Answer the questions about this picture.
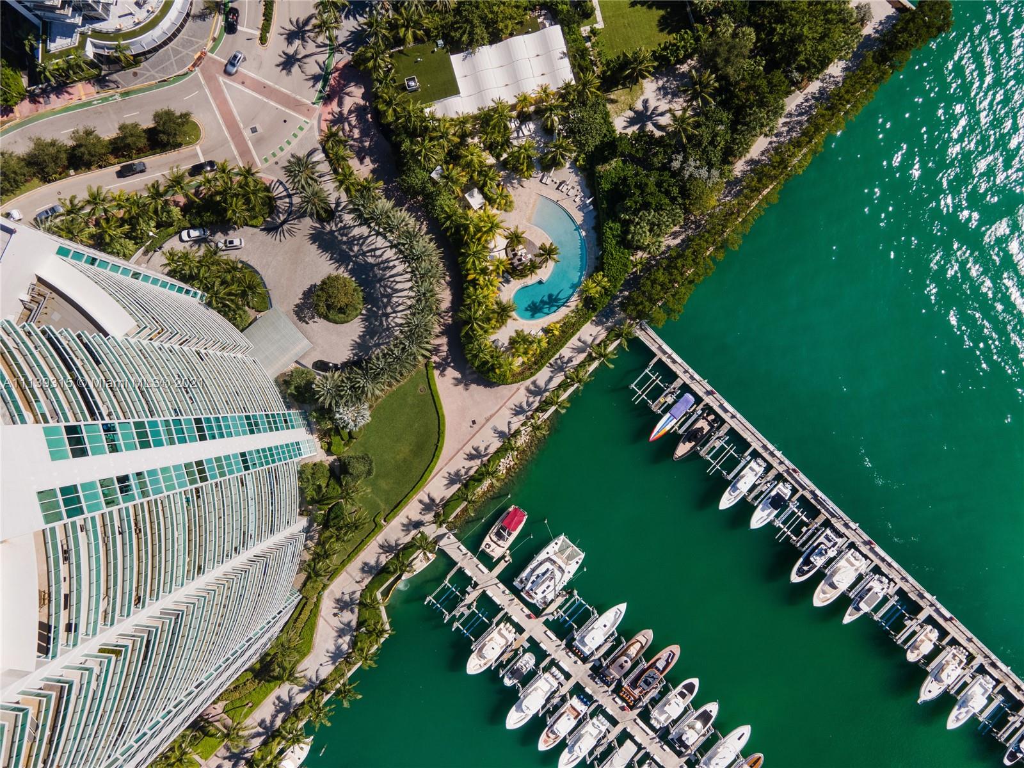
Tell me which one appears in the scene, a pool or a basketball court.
pool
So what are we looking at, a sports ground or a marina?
marina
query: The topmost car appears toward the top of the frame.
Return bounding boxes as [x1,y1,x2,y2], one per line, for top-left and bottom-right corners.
[225,7,239,35]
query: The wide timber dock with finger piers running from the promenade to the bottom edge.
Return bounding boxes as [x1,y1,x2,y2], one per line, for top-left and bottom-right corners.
[436,527,749,768]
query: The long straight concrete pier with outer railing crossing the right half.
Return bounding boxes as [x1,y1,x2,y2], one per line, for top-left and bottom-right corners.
[632,320,1024,740]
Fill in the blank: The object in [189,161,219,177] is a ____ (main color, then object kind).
black car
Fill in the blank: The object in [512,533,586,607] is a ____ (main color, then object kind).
white boat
